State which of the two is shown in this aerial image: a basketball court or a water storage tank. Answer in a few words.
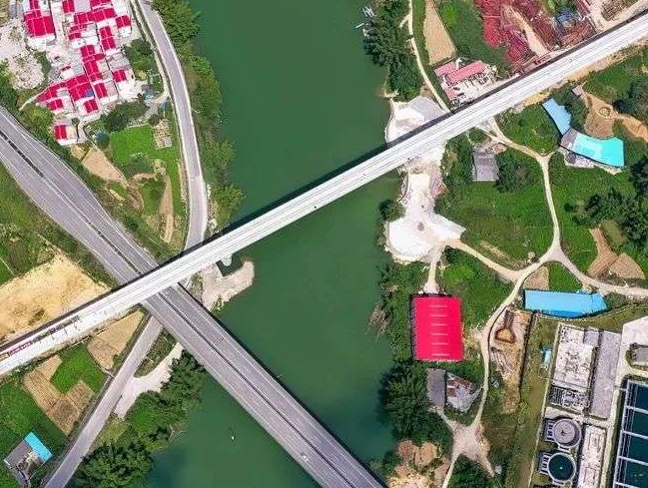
water storage tank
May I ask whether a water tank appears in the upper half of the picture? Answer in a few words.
No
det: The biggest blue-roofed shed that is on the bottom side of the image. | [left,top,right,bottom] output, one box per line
[521,288,595,316]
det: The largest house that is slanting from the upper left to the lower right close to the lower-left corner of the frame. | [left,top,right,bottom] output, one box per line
[24,429,53,461]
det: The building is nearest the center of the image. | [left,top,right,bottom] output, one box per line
[409,293,463,360]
